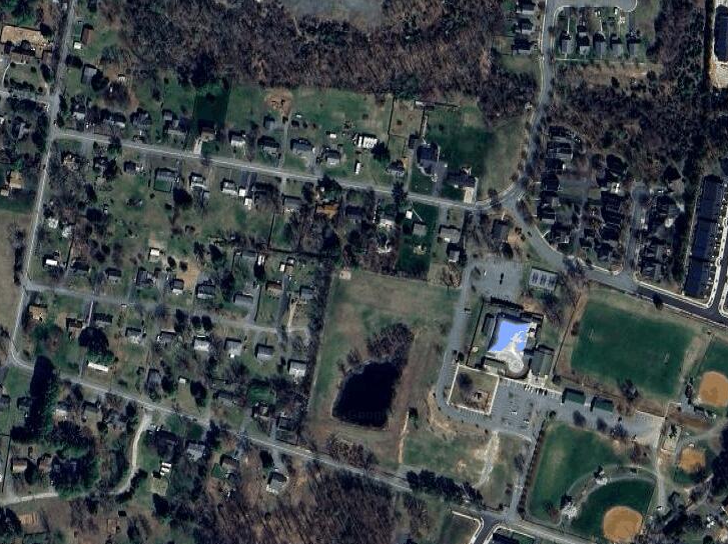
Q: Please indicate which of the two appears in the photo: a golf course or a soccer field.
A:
soccer field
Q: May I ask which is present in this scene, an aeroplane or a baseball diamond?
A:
baseball diamond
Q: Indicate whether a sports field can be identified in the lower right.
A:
Yes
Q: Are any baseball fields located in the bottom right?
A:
Yes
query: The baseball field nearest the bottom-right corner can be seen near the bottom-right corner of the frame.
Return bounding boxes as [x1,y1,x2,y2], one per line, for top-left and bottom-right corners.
[676,445,707,484]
